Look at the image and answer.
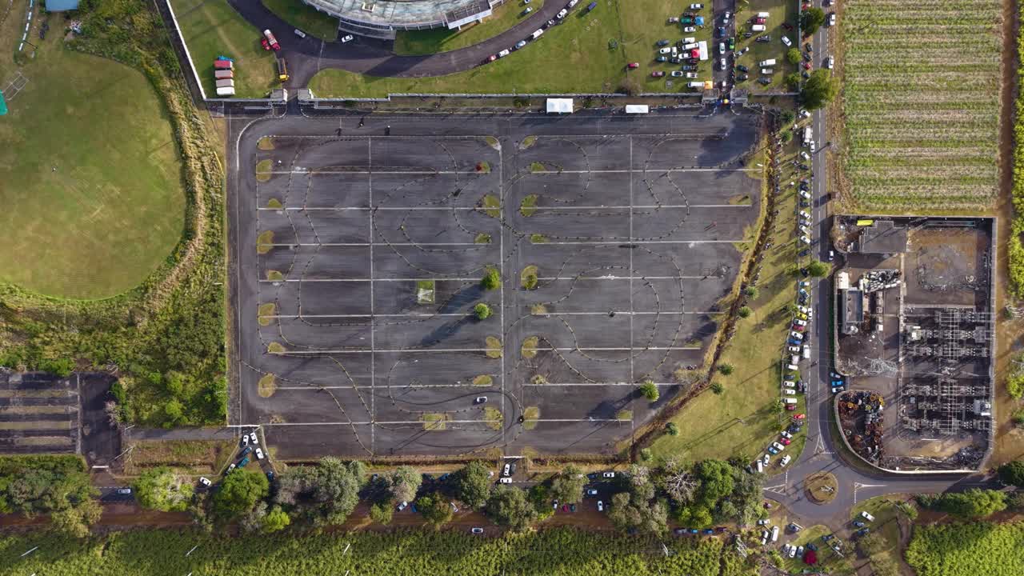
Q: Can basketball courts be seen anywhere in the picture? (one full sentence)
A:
No, there is no basketball court in the image.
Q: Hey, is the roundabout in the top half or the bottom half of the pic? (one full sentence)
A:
The roundabout sits in the bottom half of the picture.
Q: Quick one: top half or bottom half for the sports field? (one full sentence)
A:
The top half of the photo is where the sports field is.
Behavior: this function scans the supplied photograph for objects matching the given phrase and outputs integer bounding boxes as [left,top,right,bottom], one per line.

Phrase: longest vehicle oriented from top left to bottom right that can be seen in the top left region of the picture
[265,31,282,53]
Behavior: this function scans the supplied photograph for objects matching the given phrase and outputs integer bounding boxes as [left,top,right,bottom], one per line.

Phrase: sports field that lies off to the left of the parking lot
[0,48,185,300]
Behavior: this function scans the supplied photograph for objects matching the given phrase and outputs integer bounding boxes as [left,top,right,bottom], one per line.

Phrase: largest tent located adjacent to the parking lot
[546,98,573,114]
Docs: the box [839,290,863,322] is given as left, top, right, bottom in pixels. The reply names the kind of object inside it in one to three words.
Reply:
building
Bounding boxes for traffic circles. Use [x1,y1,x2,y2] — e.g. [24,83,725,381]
[787,453,856,522]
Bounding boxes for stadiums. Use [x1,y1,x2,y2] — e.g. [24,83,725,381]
[297,0,503,41]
